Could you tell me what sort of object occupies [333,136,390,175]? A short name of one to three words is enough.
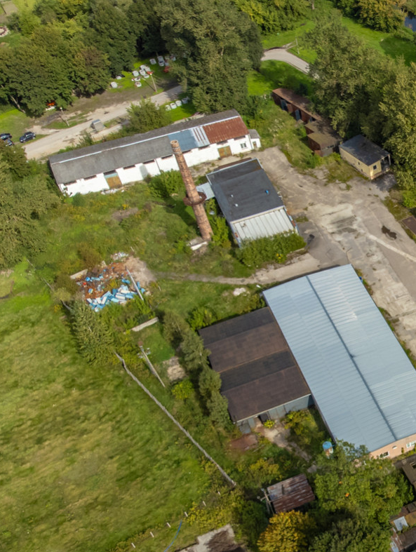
shed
